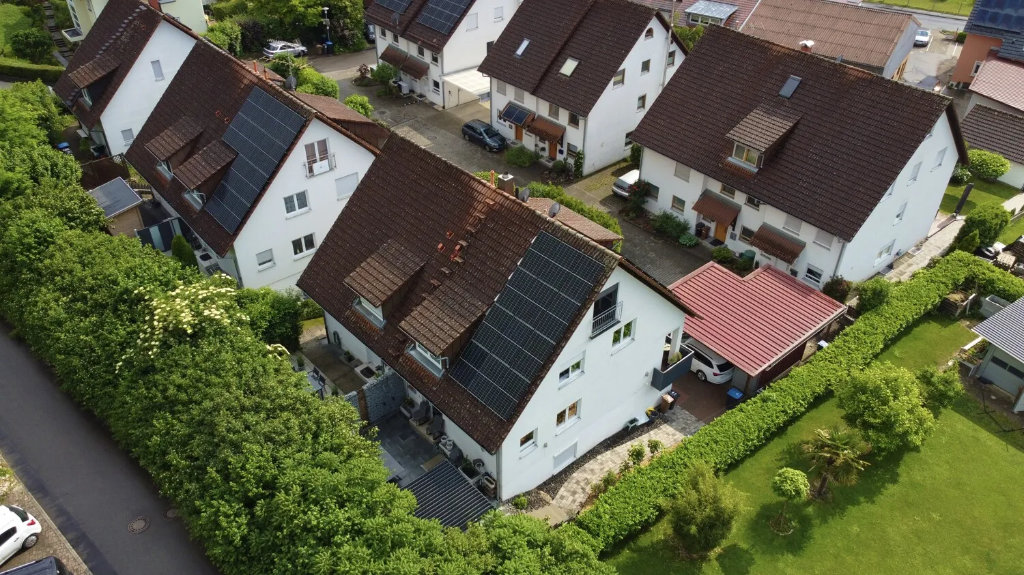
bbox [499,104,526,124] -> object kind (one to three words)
solar panel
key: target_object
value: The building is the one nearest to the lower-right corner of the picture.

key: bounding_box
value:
[973,297,1024,393]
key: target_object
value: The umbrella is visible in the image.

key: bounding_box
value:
[953,176,996,218]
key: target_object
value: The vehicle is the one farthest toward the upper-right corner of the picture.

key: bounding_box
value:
[913,25,936,48]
